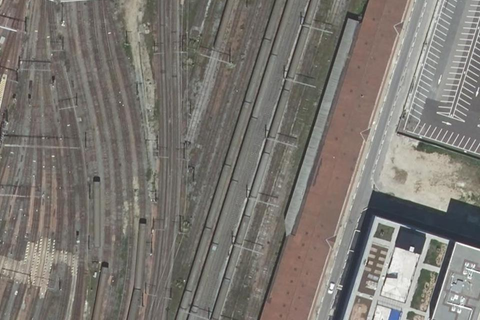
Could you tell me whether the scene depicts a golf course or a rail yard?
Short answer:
rail yard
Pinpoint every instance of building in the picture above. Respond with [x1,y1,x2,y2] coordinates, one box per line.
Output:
[336,215,452,320]
[258,0,409,320]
